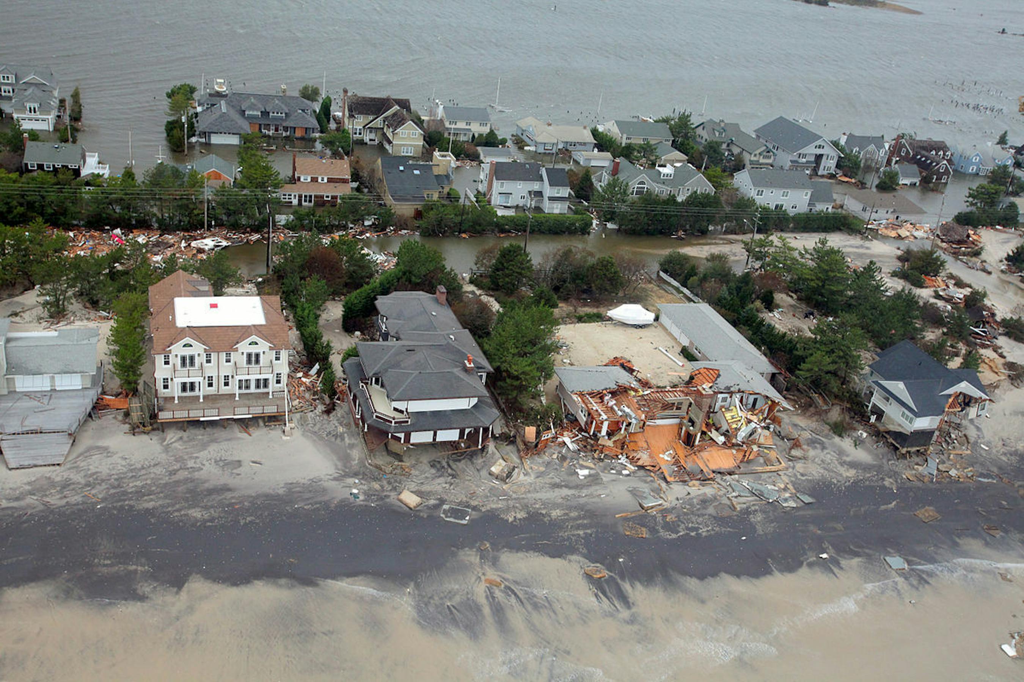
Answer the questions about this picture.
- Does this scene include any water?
Yes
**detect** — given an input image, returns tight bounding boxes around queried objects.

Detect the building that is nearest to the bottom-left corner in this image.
[0,317,102,471]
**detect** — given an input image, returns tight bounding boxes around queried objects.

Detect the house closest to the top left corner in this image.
[0,64,57,131]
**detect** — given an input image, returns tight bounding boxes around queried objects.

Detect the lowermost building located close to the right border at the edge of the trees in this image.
[870,340,989,451]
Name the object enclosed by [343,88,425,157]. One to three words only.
house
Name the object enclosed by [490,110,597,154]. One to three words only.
house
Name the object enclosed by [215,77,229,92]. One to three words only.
boat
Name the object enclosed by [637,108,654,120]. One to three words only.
boat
